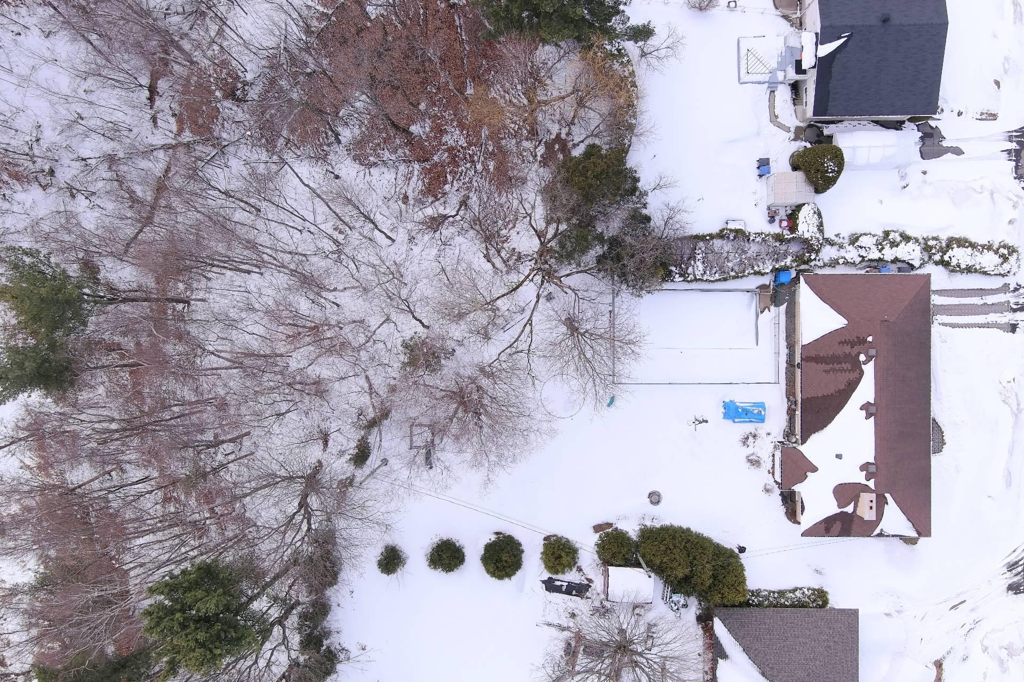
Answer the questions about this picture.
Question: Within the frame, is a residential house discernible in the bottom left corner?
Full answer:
No, I see no residential house in the bottom left corner.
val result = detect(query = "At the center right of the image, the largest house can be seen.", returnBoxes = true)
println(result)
[775,272,933,540]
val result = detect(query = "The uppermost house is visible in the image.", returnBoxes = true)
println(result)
[801,0,948,121]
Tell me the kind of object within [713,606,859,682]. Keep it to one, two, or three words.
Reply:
house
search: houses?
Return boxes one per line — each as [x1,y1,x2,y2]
[713,606,859,682]
[775,272,933,540]
[801,0,948,121]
